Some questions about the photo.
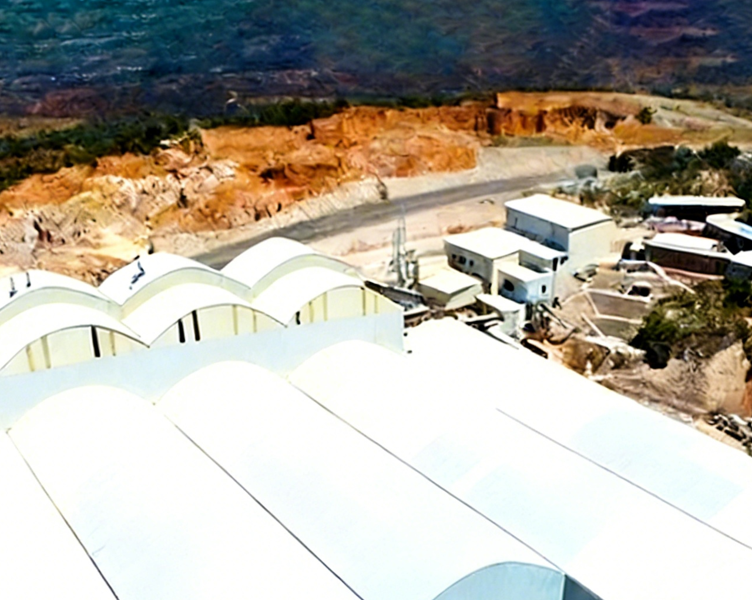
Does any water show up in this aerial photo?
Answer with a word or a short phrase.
Yes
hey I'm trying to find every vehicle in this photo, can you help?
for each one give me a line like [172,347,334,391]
[632,281,650,294]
